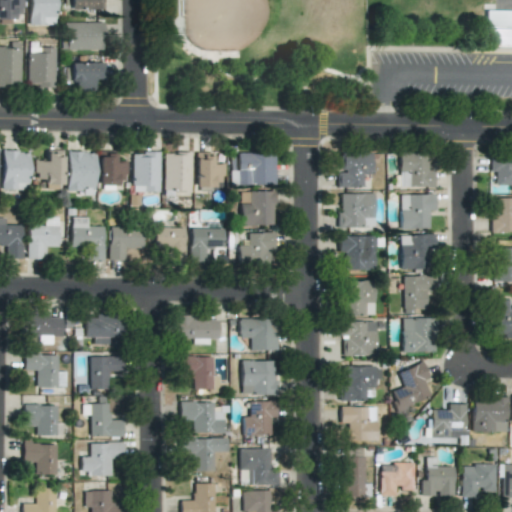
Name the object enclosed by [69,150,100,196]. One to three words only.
house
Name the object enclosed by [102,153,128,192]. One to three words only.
house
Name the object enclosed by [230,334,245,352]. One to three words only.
swimming pool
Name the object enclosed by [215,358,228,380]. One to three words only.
swimming pool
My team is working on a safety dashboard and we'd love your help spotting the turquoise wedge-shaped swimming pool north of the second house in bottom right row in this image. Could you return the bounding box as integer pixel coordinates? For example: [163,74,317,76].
[438,448,454,466]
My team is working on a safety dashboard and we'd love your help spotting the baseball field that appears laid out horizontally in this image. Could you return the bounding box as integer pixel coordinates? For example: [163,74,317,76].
[176,0,362,62]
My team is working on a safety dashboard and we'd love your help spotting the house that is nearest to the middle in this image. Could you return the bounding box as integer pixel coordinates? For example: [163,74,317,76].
[240,232,278,262]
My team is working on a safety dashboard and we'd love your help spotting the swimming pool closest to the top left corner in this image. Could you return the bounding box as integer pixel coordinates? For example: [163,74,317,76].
[100,192,122,206]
